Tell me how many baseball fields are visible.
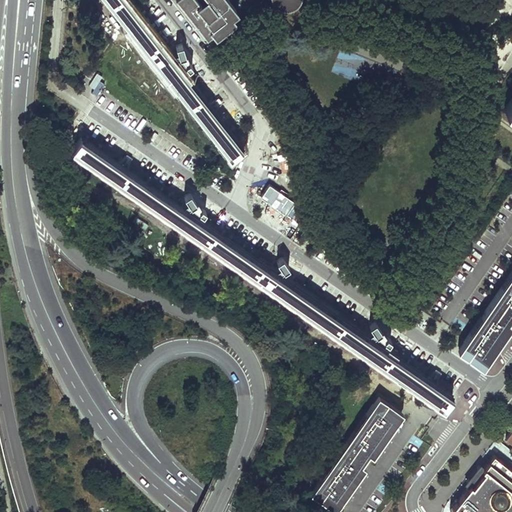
zero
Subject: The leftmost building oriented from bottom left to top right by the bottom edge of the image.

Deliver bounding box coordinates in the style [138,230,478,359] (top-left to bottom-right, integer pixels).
[313,396,407,512]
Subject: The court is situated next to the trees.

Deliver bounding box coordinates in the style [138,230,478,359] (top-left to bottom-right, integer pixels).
[331,51,368,80]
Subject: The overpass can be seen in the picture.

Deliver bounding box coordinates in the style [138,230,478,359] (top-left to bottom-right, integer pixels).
[197,466,242,512]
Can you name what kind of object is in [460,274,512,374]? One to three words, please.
building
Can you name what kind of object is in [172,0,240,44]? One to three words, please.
building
